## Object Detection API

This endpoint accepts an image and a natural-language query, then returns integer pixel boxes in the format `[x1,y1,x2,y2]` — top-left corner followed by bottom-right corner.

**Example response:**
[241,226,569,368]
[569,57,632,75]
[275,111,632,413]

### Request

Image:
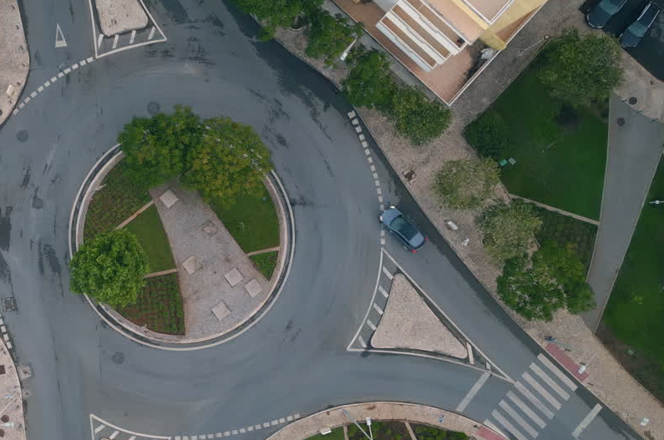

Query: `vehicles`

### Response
[587,0,626,27]
[617,0,664,51]
[378,206,428,253]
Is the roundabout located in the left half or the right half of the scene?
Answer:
left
